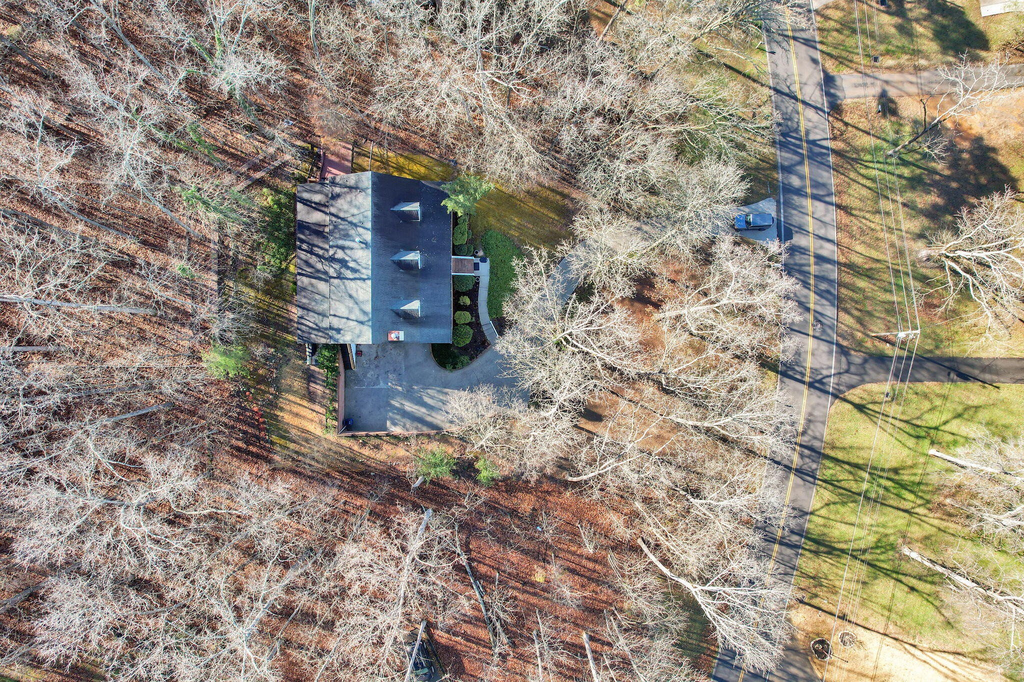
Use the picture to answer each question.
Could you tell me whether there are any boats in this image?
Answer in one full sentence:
No, the photo shows no boat.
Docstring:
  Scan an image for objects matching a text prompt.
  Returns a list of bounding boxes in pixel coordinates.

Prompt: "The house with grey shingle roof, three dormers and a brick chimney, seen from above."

[296,171,454,344]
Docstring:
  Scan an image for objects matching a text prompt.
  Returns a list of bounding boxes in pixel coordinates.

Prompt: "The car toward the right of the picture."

[732,214,773,232]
